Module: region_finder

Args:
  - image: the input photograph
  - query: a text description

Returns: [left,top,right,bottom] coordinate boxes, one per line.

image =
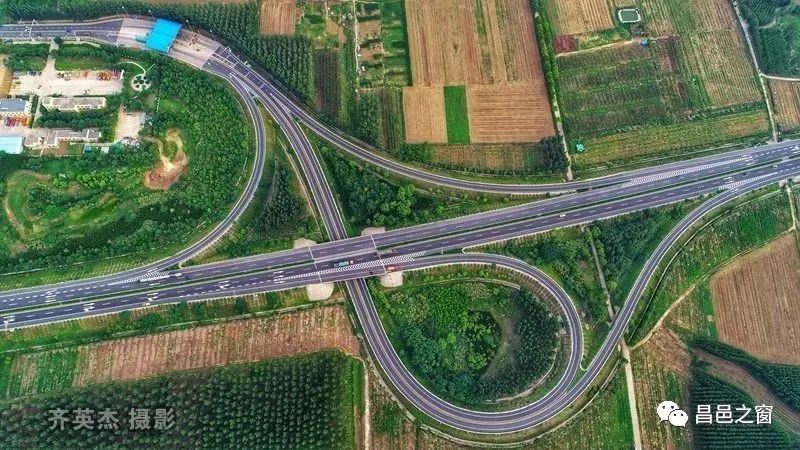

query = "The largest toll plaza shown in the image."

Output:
[145,19,183,55]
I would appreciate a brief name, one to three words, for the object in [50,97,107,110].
building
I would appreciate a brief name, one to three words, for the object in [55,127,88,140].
building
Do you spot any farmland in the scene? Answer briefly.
Yes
